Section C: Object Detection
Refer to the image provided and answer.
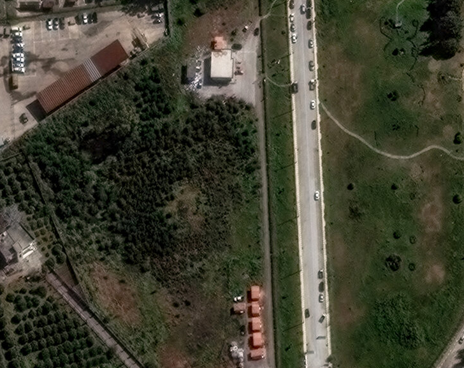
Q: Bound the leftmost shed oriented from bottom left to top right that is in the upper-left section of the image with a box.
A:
[36,64,94,118]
